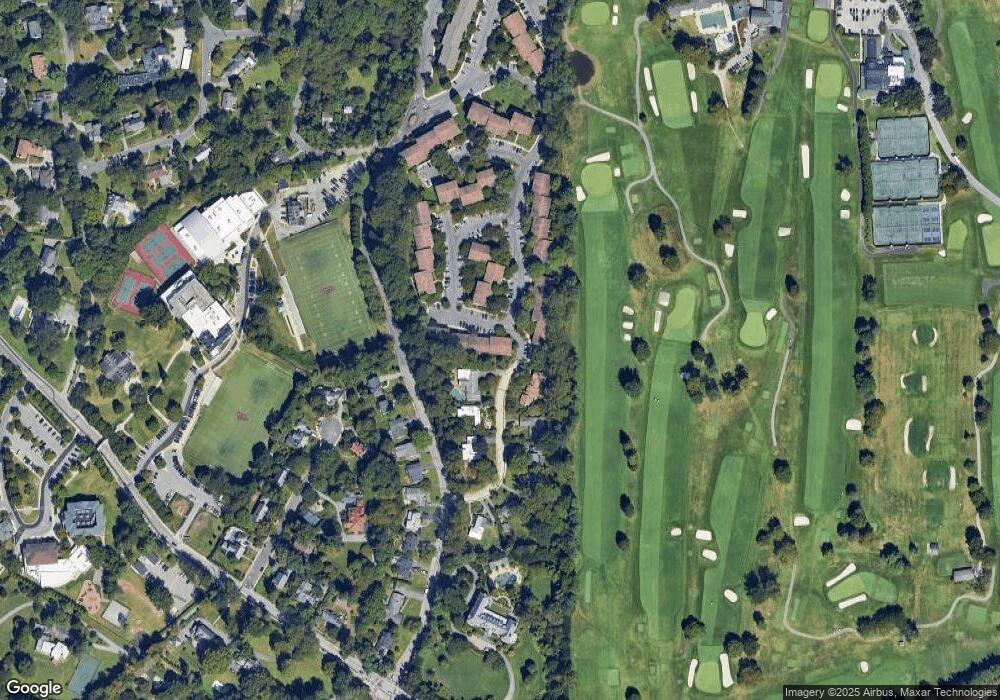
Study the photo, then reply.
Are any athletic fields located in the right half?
No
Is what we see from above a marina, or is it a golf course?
golf course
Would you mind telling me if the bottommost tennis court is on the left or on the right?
left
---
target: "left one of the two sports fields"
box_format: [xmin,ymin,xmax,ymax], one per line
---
[184,350,293,475]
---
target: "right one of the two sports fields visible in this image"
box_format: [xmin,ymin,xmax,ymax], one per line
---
[280,222,372,349]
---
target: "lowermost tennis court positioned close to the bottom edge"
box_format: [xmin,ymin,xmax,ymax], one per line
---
[68,655,100,693]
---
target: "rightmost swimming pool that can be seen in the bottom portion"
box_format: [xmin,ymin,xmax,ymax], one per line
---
[495,573,518,586]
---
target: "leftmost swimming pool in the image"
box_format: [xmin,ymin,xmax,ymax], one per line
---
[451,387,466,402]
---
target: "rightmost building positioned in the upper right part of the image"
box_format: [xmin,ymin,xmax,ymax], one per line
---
[865,34,905,91]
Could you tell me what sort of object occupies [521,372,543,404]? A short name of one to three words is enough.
house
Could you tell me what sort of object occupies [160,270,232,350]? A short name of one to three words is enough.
building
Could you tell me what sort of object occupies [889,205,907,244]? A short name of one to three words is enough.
tennis court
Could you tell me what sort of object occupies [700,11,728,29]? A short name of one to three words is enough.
swimming pool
